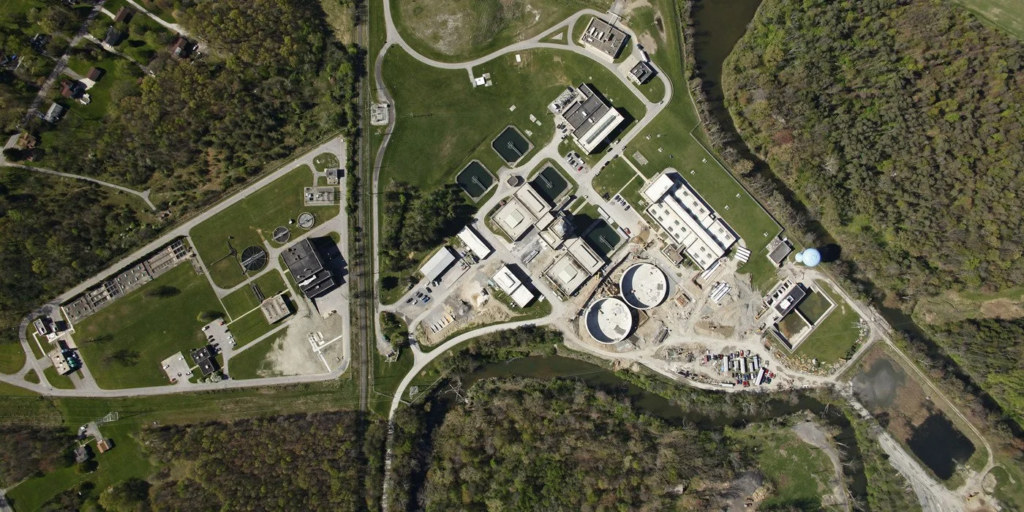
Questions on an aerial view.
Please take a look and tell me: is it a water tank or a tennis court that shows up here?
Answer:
water tank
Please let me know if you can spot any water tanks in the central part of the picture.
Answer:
Yes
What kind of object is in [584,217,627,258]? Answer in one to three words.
water tank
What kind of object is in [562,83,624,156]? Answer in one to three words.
building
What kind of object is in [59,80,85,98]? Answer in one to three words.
house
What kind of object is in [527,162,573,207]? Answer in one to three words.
water tank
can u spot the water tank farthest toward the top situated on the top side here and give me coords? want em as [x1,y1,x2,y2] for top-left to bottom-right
[491,125,534,167]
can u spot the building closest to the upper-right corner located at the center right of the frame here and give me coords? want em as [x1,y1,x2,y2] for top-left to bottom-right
[766,238,791,268]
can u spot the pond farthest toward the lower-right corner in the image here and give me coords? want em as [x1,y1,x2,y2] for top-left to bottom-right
[909,413,972,478]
